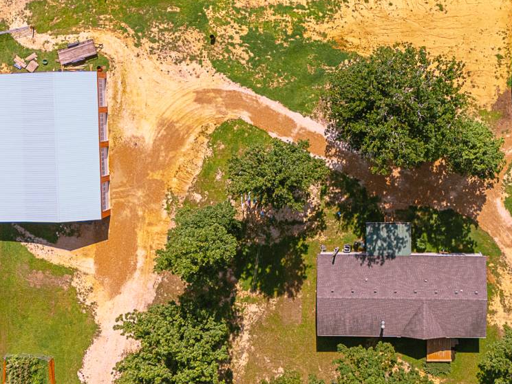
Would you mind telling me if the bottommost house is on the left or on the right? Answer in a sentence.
The bottommost house appears in the right half of the scene.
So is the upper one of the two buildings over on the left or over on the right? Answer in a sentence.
It is on the left.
